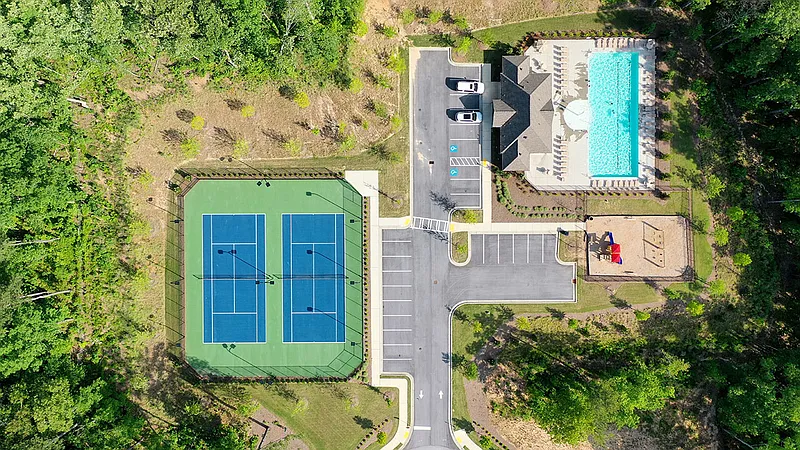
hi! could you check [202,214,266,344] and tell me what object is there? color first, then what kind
blue tennis court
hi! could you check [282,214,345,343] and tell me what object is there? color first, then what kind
blue tennis court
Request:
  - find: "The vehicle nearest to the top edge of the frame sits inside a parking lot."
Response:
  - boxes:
[456,80,484,92]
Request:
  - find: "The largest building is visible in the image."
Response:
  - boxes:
[491,55,556,171]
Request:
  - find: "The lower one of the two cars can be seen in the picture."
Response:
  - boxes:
[455,109,482,123]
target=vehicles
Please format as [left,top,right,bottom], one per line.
[456,80,484,92]
[455,109,482,123]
